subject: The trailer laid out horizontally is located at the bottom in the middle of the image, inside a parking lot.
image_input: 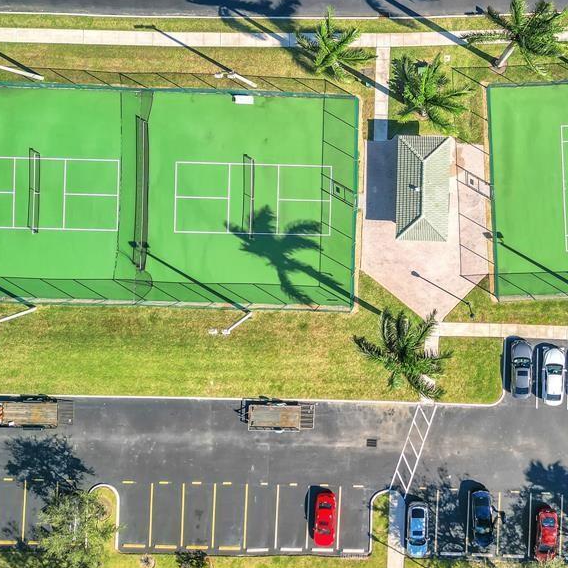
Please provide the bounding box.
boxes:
[233,402,315,434]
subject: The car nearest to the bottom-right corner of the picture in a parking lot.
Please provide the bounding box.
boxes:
[534,505,559,560]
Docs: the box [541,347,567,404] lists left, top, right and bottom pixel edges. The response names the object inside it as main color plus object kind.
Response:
white car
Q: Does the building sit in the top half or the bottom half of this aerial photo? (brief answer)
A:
top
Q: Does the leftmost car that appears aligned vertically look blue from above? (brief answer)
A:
No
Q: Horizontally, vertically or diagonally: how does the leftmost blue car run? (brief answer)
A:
vertically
